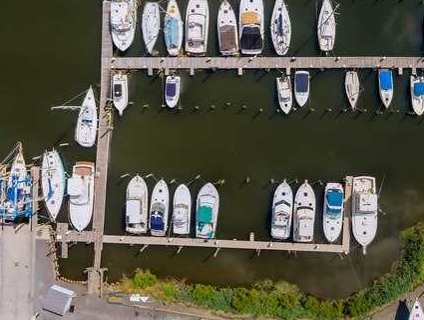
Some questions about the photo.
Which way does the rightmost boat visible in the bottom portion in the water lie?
from top to bottom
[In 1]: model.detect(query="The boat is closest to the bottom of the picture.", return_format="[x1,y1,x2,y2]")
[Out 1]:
[409,297,424,320]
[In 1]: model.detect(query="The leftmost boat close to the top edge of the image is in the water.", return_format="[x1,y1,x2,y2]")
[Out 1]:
[109,0,137,54]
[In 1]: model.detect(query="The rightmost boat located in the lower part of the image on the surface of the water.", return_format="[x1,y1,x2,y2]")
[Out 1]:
[343,169,391,258]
